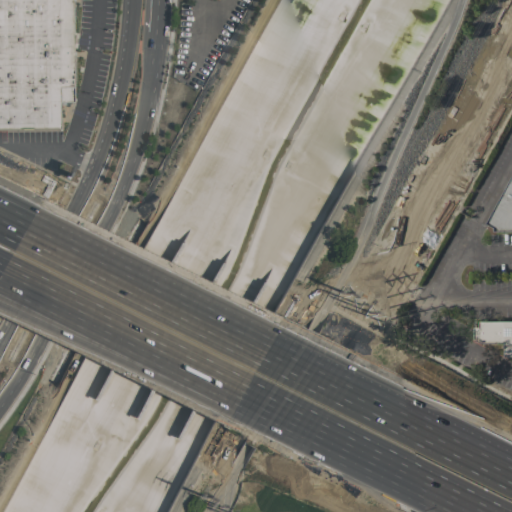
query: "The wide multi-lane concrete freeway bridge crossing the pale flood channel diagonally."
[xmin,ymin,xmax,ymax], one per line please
[0,200,329,448]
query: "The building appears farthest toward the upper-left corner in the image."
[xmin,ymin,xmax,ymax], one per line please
[0,0,76,130]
